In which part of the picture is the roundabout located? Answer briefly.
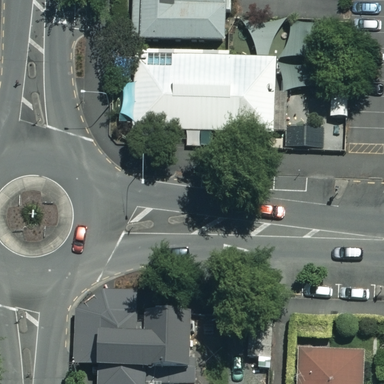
left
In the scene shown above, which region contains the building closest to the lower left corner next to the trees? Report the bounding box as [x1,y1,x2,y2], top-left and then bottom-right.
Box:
[73,288,195,384]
